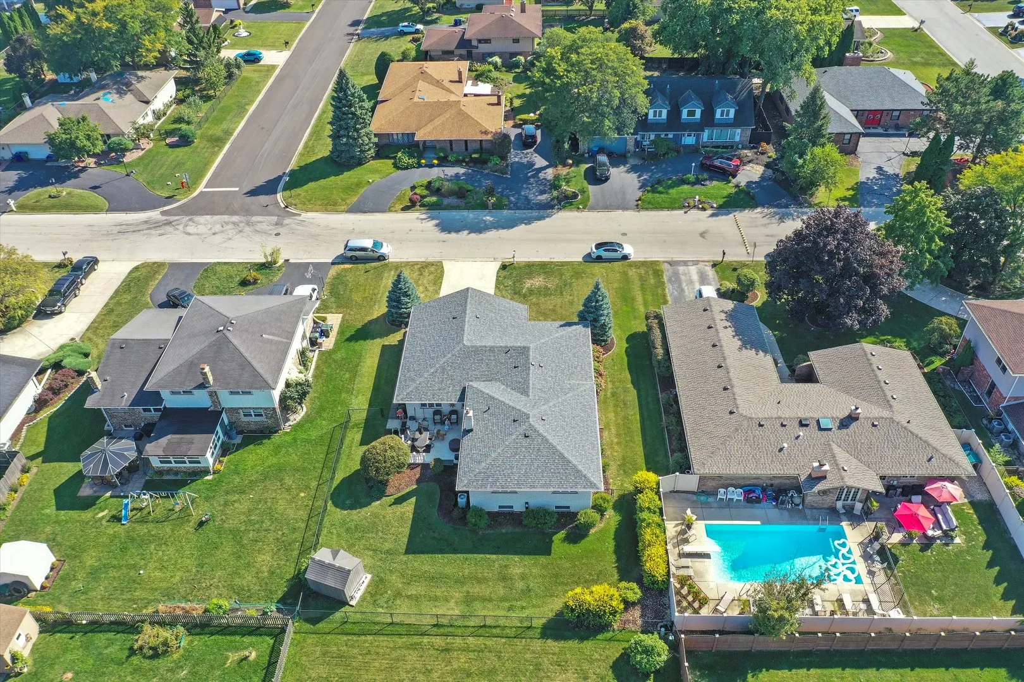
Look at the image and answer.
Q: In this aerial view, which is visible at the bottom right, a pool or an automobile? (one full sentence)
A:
Looking at the bottom right, you will find a pool.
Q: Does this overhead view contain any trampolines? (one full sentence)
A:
No, there is no trampoline in the image.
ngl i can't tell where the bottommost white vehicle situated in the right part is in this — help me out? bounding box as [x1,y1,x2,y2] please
[694,286,718,299]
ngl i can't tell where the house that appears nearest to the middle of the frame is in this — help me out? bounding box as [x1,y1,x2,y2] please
[391,290,605,517]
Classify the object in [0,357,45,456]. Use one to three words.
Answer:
house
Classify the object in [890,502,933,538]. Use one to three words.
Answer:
umbrella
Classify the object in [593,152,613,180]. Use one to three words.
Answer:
car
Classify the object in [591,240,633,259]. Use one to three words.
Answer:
car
